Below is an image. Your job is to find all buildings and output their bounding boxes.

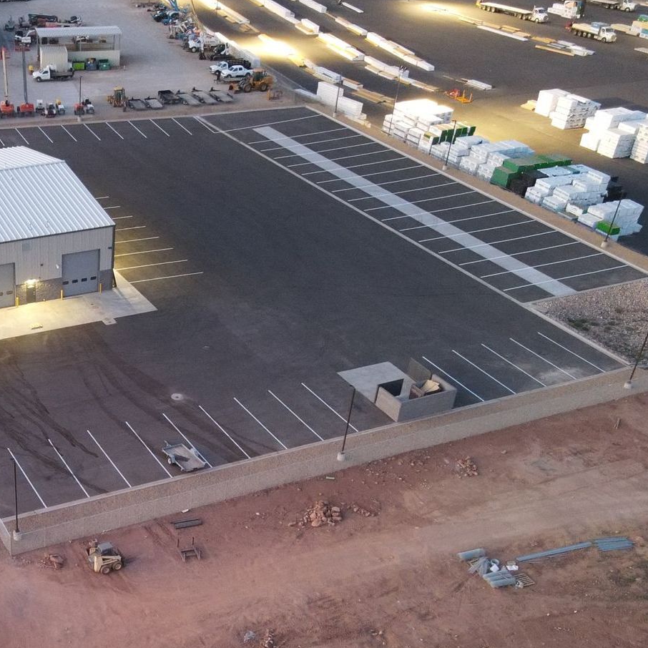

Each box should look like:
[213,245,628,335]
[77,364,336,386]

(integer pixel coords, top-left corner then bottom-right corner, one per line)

[0,145,120,308]
[36,24,126,64]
